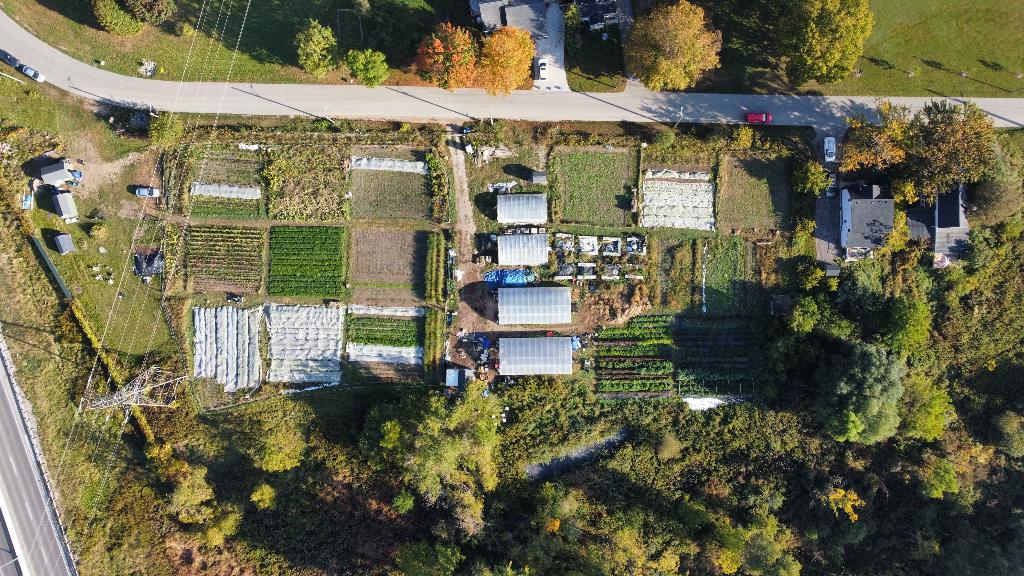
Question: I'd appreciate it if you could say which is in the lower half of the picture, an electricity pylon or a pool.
electricity pylon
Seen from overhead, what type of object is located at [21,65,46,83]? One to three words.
car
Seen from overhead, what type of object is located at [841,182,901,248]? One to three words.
house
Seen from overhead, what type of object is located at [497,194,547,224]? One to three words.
greenhouse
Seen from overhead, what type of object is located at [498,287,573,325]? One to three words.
greenhouse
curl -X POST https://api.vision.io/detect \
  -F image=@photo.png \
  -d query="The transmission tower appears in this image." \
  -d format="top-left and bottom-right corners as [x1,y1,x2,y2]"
[76,363,190,426]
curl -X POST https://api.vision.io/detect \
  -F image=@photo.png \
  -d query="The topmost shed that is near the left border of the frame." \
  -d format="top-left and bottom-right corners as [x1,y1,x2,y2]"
[36,159,73,185]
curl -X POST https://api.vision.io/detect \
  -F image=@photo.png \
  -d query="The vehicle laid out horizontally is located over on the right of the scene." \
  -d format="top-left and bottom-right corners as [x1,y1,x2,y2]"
[743,112,771,124]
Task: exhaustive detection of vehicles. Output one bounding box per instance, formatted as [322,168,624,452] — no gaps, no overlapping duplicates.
[743,112,771,124]
[823,136,836,162]
[538,59,548,83]
[21,65,46,83]
[0,49,21,67]
[824,171,838,199]
[136,188,161,199]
